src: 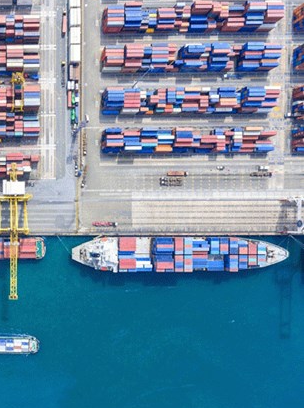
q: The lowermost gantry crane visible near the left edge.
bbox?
[0,161,28,301]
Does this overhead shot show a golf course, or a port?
port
